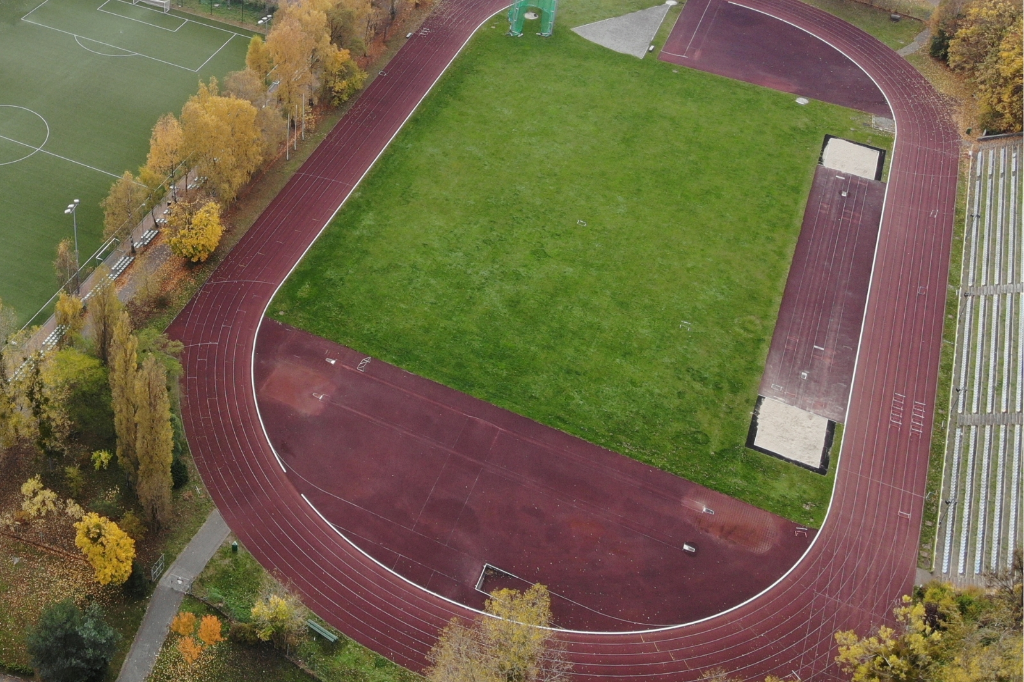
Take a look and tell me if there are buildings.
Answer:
No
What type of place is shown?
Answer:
sports ground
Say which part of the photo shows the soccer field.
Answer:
top left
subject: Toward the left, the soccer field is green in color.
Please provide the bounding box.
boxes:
[0,0,304,356]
